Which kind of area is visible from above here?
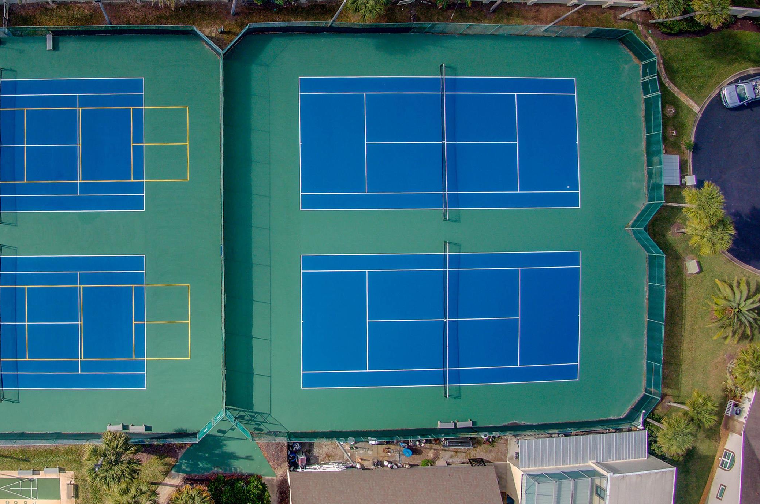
sports ground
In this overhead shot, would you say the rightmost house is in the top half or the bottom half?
bottom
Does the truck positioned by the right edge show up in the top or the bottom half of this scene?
top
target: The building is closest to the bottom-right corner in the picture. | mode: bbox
[708,393,760,504]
